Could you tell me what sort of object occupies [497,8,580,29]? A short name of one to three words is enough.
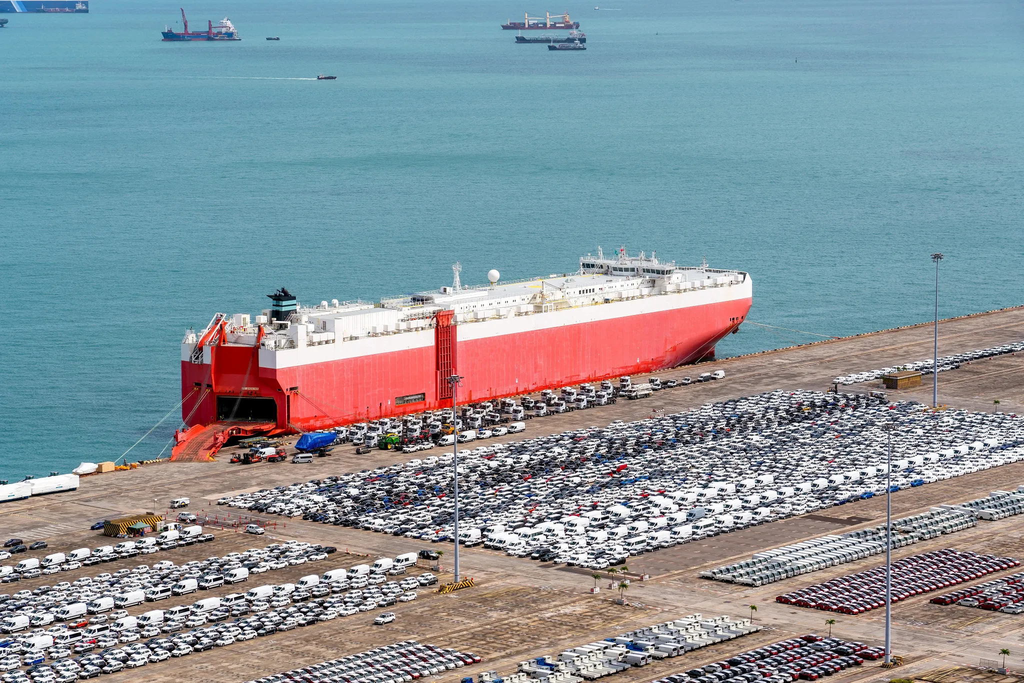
ship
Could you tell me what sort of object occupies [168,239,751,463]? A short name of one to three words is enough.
ship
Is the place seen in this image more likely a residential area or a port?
port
